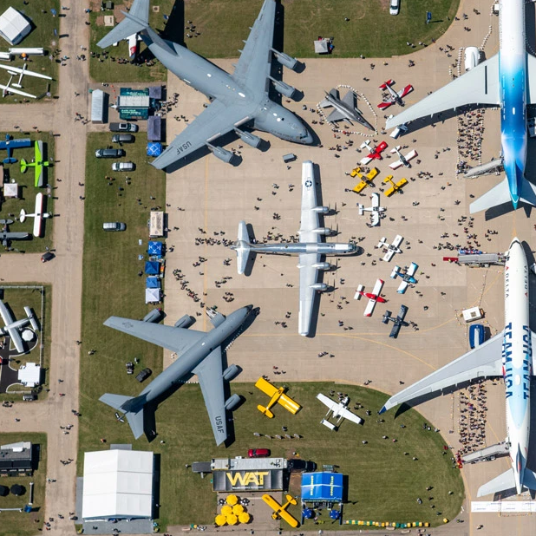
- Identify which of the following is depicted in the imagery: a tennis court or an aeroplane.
aeroplane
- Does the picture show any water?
No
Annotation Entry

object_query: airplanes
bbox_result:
[388,0,536,214]
[18,192,54,236]
[358,192,388,226]
[317,87,375,131]
[379,79,415,110]
[0,133,31,164]
[353,278,389,316]
[0,68,37,98]
[379,238,536,497]
[231,162,358,333]
[352,165,380,193]
[0,64,52,86]
[0,221,29,250]
[0,300,39,353]
[122,37,145,60]
[101,305,253,445]
[19,139,51,185]
[381,303,411,338]
[388,111,412,140]
[255,377,300,420]
[263,495,296,526]
[361,138,390,165]
[97,0,315,169]
[378,234,404,261]
[318,391,363,431]
[390,262,419,294]
[391,144,420,170]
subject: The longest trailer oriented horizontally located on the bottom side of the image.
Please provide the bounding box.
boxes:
[192,458,289,490]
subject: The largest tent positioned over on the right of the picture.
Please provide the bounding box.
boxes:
[302,473,344,528]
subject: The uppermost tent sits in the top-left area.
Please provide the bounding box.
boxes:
[0,6,31,45]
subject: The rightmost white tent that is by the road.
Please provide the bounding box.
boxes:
[82,451,154,522]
